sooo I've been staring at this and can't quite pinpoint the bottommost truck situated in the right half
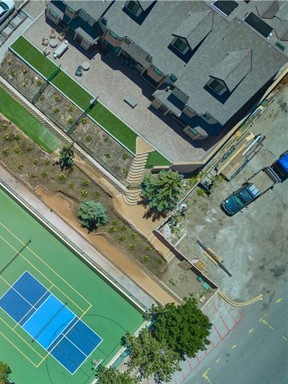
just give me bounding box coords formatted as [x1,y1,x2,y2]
[218,182,261,214]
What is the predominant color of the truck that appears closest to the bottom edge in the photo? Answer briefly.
blue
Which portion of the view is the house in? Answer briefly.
top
